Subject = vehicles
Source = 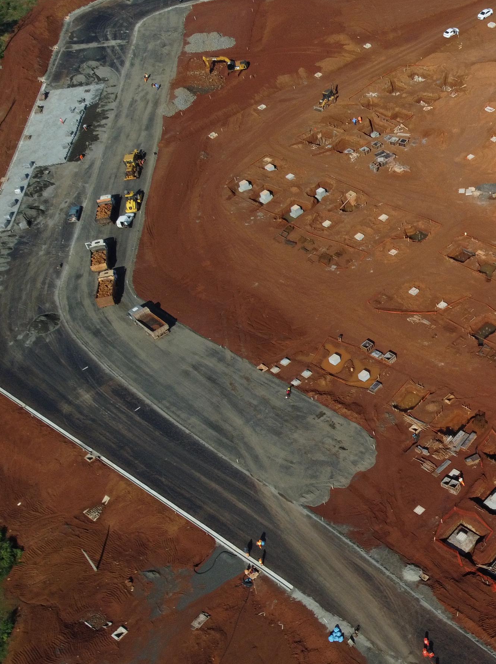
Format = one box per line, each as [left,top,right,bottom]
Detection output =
[126,151,143,182]
[66,206,82,223]
[85,242,111,277]
[96,197,116,231]
[132,307,171,343]
[124,188,139,212]
[312,86,338,114]
[441,26,460,36]
[476,9,494,20]
[97,271,118,310]
[114,208,139,228]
